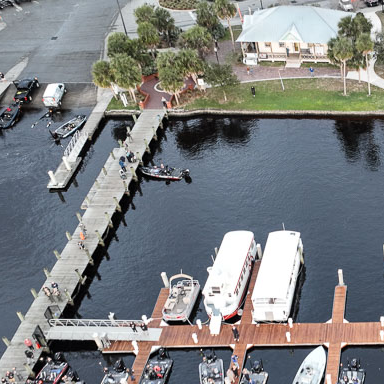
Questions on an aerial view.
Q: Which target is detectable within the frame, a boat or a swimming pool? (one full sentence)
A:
This aerial view contains a boat.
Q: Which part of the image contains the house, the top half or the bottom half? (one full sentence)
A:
The top half of the photo is where the house is.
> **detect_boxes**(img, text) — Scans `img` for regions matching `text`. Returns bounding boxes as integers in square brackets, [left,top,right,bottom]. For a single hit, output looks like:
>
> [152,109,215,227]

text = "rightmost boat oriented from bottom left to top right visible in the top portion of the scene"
[52,113,87,140]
